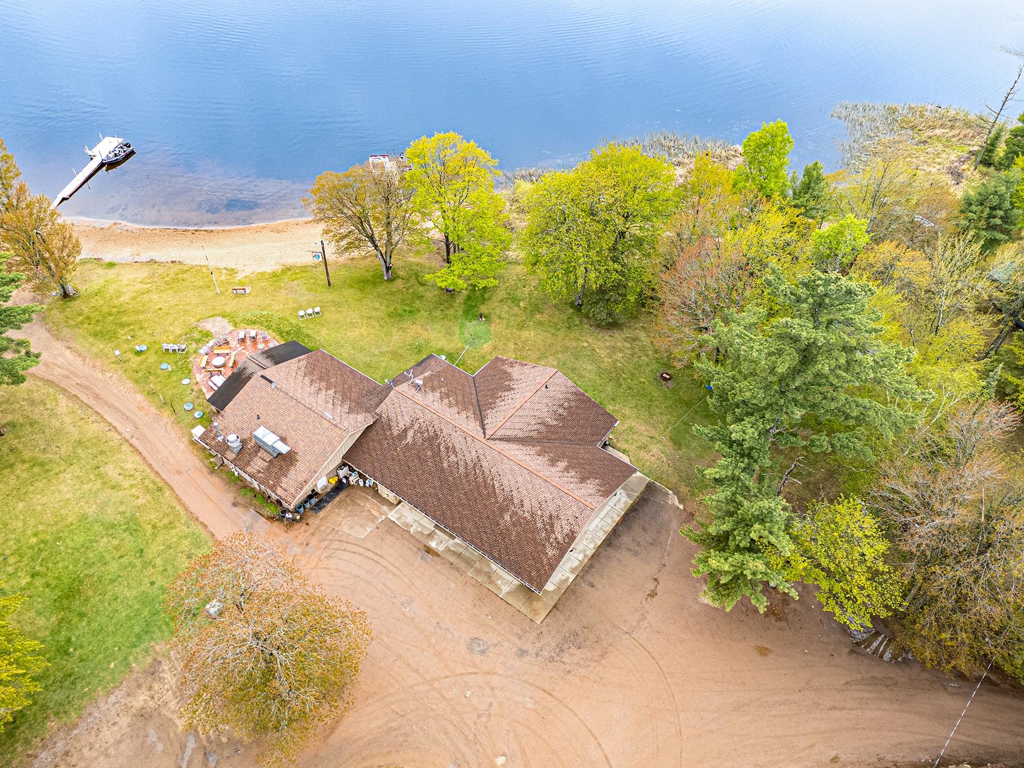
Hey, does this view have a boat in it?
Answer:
Yes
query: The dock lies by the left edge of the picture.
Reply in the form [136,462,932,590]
[51,132,124,210]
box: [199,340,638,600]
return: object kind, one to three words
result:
building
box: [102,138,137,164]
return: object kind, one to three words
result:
boat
